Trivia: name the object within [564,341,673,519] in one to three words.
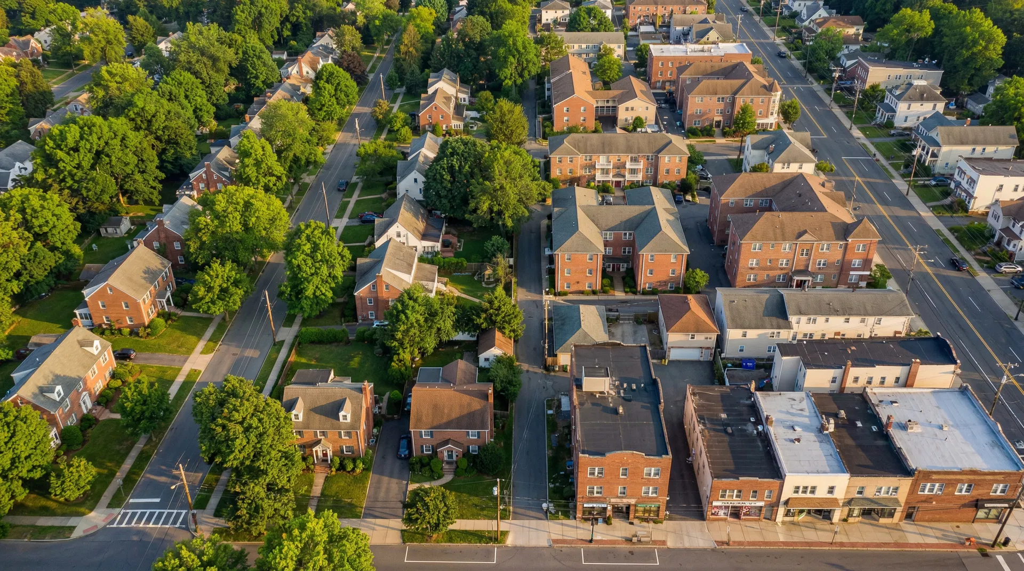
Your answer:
building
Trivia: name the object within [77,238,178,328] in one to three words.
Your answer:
house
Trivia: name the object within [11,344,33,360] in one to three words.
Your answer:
car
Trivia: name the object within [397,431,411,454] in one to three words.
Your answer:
car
